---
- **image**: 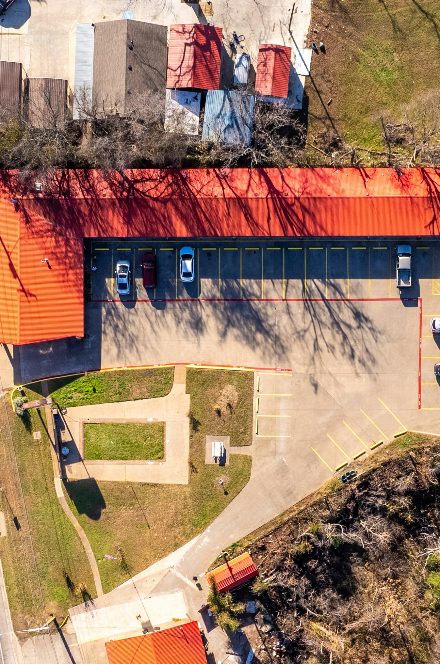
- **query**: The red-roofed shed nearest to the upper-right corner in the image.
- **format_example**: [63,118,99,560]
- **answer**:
[255,44,291,102]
